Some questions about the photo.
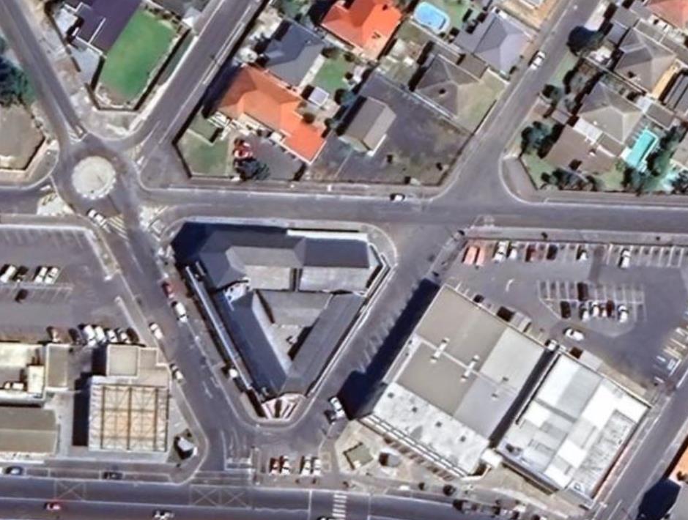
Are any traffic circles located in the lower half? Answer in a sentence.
No, there is no traffic circle in the lower half.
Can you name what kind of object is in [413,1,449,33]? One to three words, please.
swimming pool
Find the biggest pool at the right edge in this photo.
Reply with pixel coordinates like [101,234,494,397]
[626,131,658,168]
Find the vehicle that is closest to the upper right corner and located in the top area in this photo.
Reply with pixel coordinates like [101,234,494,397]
[530,49,548,72]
